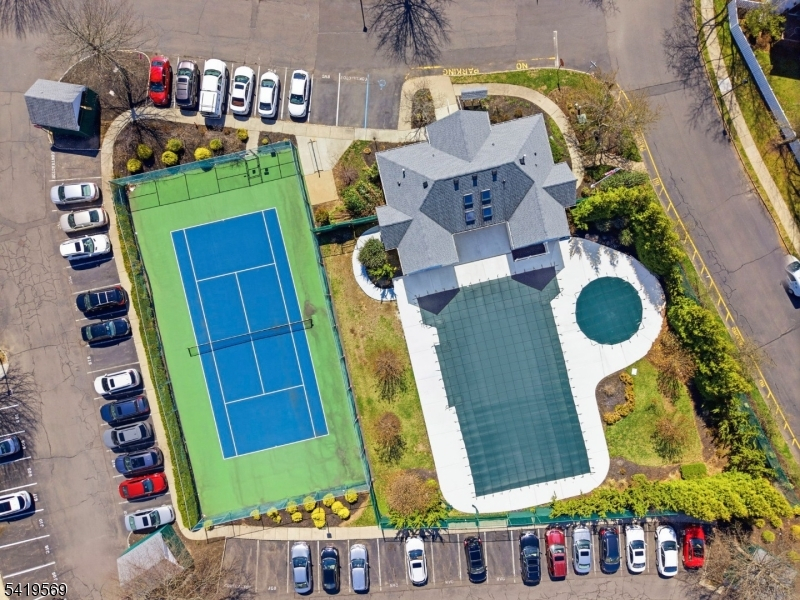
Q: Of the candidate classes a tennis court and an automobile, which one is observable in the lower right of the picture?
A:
automobile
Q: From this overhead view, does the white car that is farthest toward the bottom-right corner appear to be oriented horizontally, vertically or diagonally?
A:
vertically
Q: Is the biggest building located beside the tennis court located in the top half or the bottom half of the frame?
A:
top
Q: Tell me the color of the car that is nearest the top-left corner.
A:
red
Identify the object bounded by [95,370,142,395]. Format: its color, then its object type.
white car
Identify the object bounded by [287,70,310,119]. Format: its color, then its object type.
white car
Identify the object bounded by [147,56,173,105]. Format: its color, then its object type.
red car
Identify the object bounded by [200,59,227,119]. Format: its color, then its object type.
white vehicle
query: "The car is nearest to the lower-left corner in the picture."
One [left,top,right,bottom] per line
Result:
[0,491,36,520]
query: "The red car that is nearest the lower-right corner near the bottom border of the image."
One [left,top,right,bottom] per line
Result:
[680,523,706,571]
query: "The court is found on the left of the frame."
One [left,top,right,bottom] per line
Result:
[126,148,367,518]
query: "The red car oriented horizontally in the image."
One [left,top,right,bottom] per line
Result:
[117,472,169,499]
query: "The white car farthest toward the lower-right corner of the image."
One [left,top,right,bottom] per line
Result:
[653,524,680,577]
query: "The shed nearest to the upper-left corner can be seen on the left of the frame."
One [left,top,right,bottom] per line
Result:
[24,78,101,138]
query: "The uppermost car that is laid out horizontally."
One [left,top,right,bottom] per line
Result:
[52,180,102,205]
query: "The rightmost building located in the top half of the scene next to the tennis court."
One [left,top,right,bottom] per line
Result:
[375,110,577,275]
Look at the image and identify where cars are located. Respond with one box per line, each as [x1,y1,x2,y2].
[653,524,680,577]
[289,541,313,594]
[105,421,155,449]
[147,56,173,105]
[76,286,130,312]
[570,526,595,576]
[318,544,340,593]
[348,542,370,591]
[680,523,706,571]
[95,370,142,395]
[287,70,310,119]
[0,491,36,520]
[80,318,132,343]
[101,395,152,423]
[52,180,102,205]
[598,526,623,573]
[59,233,111,259]
[230,66,255,116]
[123,504,176,531]
[623,523,648,573]
[117,472,169,499]
[780,255,800,301]
[61,209,110,232]
[257,72,280,120]
[543,528,570,581]
[404,534,427,586]
[517,530,544,586]
[462,533,488,583]
[173,60,200,110]
[116,448,166,476]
